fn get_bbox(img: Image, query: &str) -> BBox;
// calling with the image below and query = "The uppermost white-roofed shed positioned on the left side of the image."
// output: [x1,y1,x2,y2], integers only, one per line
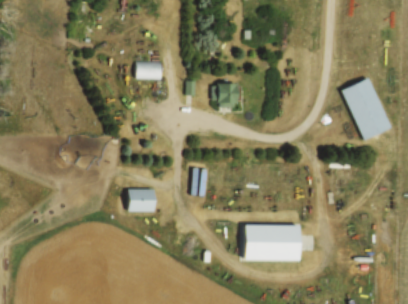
[133,61,163,80]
